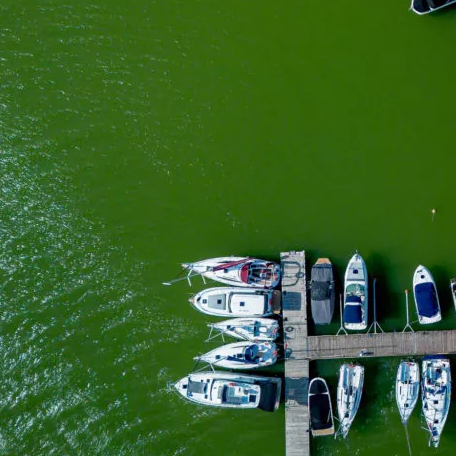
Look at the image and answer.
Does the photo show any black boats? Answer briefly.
Yes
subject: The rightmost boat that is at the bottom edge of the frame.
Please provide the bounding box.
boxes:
[421,357,451,448]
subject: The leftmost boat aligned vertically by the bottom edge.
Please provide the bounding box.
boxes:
[309,376,334,436]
